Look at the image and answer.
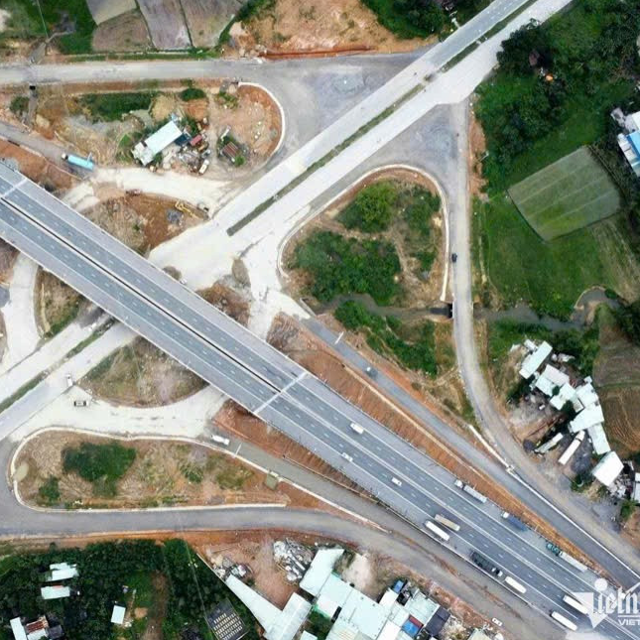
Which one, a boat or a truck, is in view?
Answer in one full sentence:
There is a truck in the scene.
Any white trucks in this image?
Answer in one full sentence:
Yes, the photo shows a white truck.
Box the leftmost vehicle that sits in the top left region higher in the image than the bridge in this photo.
[60,151,94,170]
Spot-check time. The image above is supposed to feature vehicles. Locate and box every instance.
[450,252,458,263]
[367,368,378,379]
[423,519,453,545]
[500,510,530,533]
[60,151,94,170]
[197,158,211,174]
[562,593,592,617]
[342,452,353,462]
[545,540,591,574]
[433,512,463,534]
[66,374,73,387]
[390,477,402,487]
[558,431,588,465]
[548,609,581,635]
[503,573,530,597]
[470,548,505,579]
[534,432,566,453]
[350,422,364,435]
[454,478,490,505]
[211,433,229,446]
